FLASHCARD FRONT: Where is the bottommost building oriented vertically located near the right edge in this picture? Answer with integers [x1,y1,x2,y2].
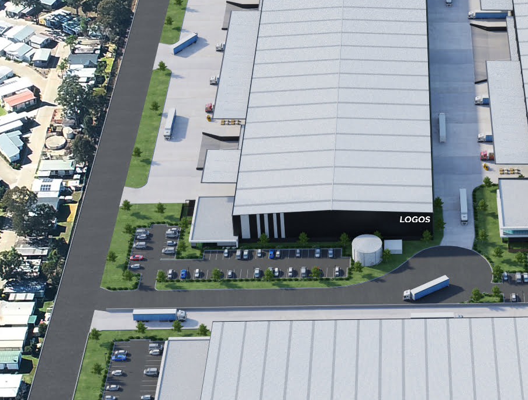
[496,178,528,250]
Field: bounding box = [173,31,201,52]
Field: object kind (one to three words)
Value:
vehicle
